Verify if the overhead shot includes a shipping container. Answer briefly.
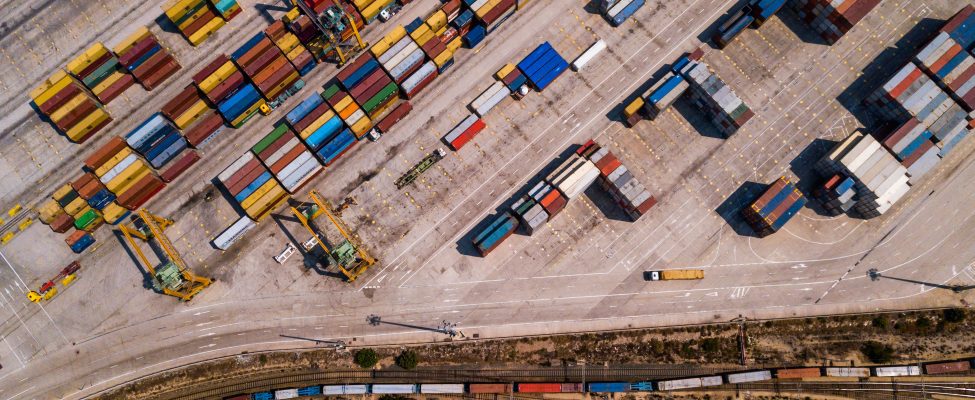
Yes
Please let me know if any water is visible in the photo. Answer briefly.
No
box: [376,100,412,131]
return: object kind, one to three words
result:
shipping container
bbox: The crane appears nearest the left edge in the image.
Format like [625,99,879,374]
[115,207,219,302]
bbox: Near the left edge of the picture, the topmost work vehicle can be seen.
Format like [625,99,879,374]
[33,259,81,293]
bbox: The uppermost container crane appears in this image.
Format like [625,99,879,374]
[290,0,368,67]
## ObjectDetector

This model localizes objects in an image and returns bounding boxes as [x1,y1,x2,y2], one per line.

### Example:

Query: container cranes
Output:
[290,190,382,286]
[115,207,219,302]
[290,0,368,67]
